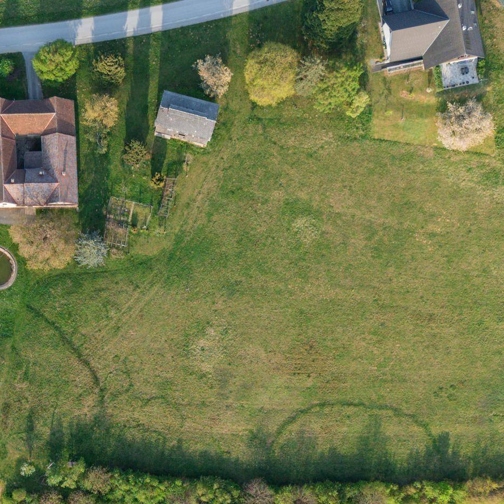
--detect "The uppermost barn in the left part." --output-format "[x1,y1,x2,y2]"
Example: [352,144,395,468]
[154,90,219,146]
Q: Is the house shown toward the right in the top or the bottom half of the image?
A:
top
